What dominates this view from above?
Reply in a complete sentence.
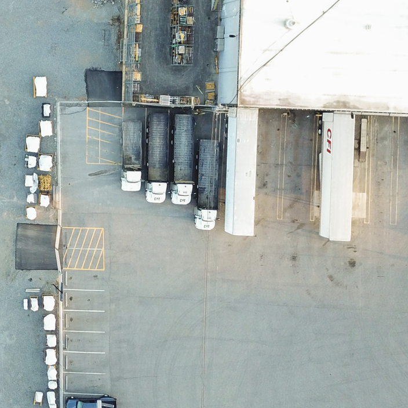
What you mostly see from above here is paved ground.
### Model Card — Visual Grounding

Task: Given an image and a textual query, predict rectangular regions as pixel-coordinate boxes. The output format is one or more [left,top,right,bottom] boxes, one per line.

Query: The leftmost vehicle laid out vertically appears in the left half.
[116,121,144,191]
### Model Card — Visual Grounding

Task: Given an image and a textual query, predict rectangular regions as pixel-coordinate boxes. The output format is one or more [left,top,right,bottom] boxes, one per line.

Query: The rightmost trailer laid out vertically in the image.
[316,115,356,239]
